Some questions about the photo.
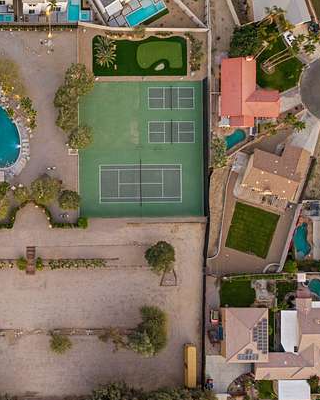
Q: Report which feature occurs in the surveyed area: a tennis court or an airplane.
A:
tennis court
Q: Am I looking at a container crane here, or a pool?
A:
pool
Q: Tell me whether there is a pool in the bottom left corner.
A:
No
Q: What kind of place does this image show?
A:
residential area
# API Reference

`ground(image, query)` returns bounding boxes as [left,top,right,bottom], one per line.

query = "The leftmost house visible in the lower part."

[222,307,269,363]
